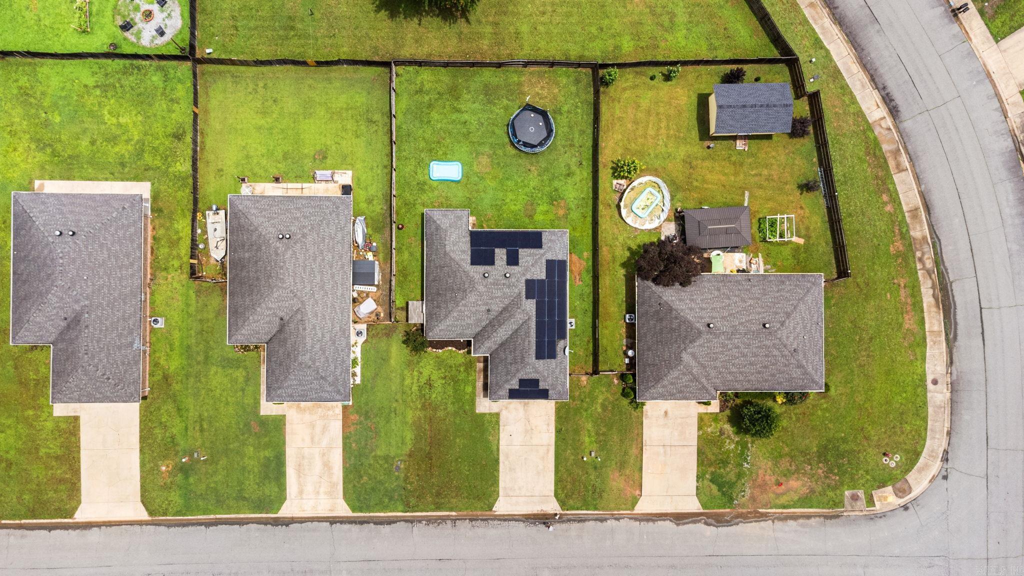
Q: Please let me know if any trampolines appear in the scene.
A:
Yes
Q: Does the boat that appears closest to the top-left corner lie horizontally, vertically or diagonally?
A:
vertically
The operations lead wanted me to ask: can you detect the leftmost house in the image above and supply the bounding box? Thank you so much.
[10,192,155,404]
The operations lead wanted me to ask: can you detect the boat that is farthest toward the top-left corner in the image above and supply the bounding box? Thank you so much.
[205,204,227,266]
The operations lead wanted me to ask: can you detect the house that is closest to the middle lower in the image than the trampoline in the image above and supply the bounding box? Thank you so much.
[424,209,569,402]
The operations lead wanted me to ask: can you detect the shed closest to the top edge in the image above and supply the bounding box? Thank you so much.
[710,83,795,136]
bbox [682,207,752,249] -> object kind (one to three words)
gazebo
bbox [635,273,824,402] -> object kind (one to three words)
house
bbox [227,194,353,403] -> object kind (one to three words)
house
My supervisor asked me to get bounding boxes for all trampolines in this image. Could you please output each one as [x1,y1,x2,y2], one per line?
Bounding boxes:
[509,105,554,154]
